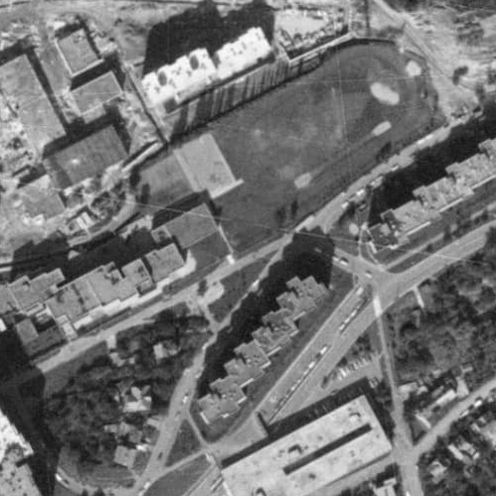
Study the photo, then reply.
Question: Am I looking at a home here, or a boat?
home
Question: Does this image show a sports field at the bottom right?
No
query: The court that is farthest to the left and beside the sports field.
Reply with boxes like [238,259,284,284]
[137,152,200,216]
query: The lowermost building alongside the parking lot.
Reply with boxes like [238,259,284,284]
[222,395,392,496]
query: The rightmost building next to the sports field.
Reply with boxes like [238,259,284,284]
[369,138,496,250]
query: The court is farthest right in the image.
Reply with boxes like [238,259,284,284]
[174,133,236,195]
